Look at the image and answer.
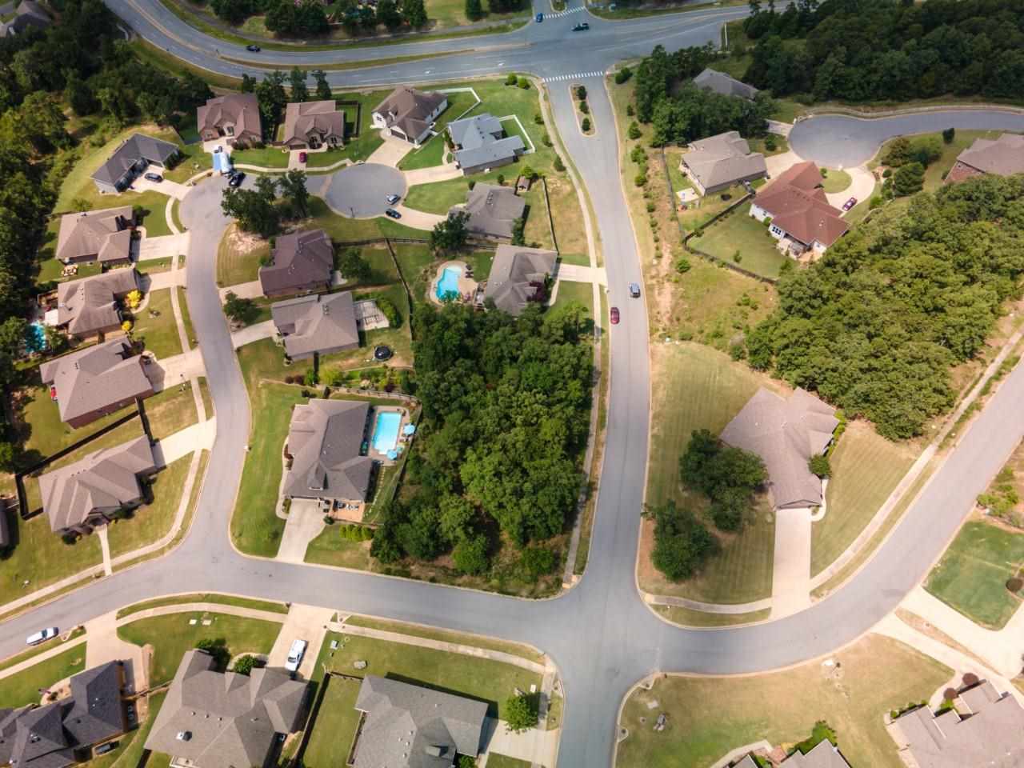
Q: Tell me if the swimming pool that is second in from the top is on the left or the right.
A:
left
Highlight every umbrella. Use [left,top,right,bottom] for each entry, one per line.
[402,423,416,435]
[385,448,399,460]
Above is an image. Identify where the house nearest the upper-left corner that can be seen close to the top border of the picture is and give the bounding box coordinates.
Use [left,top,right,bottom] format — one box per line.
[4,0,70,38]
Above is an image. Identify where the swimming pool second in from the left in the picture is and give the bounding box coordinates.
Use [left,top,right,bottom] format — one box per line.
[369,406,409,465]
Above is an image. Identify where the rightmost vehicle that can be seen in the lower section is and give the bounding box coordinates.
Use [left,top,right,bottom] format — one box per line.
[287,638,307,671]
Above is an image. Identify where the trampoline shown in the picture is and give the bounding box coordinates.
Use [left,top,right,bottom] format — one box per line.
[372,344,393,362]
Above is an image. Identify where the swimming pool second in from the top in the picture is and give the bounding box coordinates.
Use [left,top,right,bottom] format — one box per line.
[21,307,50,359]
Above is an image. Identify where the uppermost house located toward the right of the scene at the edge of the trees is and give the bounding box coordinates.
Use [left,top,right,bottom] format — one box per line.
[694,68,759,110]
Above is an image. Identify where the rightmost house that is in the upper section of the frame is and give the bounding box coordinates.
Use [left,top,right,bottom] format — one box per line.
[954,124,1024,180]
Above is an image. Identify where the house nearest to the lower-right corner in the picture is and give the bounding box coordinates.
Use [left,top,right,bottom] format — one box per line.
[892,679,1024,768]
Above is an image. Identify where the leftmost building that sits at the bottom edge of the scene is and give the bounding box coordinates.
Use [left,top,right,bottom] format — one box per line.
[0,661,128,768]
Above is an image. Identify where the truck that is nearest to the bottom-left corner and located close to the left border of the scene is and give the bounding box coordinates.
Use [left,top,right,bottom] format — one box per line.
[25,625,59,647]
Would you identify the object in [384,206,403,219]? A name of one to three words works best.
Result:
vehicle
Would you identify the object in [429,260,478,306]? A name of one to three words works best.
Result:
swimming pool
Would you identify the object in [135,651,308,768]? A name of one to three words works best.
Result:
house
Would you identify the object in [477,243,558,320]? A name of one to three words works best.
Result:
house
